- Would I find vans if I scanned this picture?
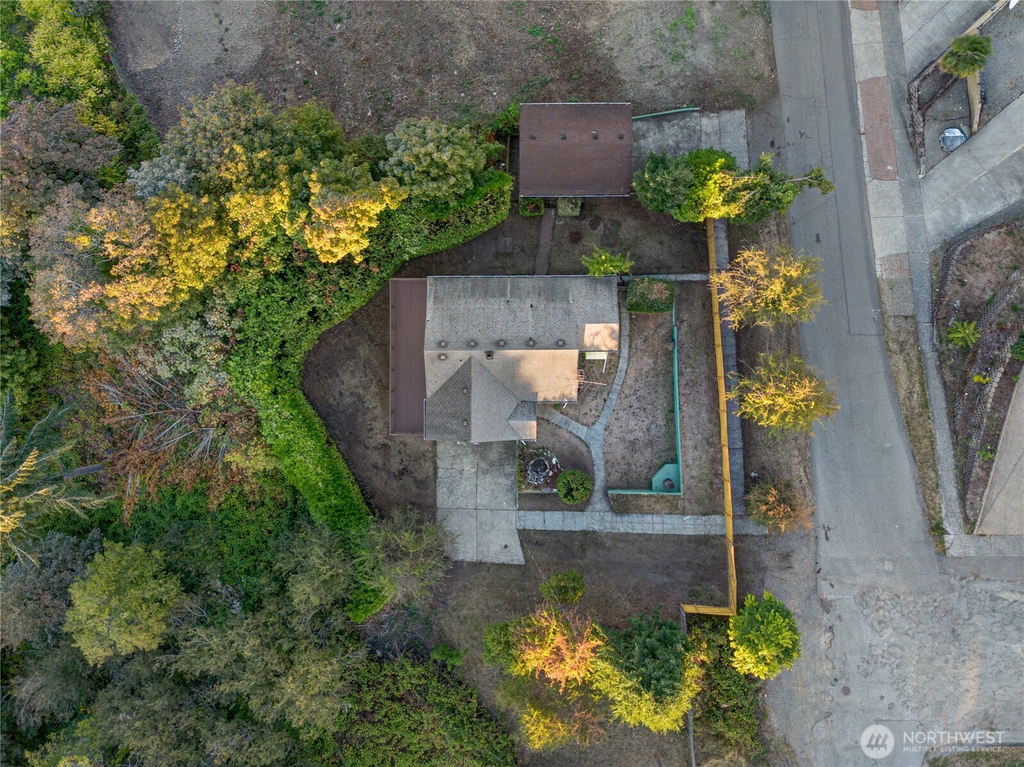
No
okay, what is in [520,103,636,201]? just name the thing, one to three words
building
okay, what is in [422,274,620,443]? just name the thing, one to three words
house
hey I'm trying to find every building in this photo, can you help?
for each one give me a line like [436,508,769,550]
[422,274,620,443]
[520,103,636,201]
